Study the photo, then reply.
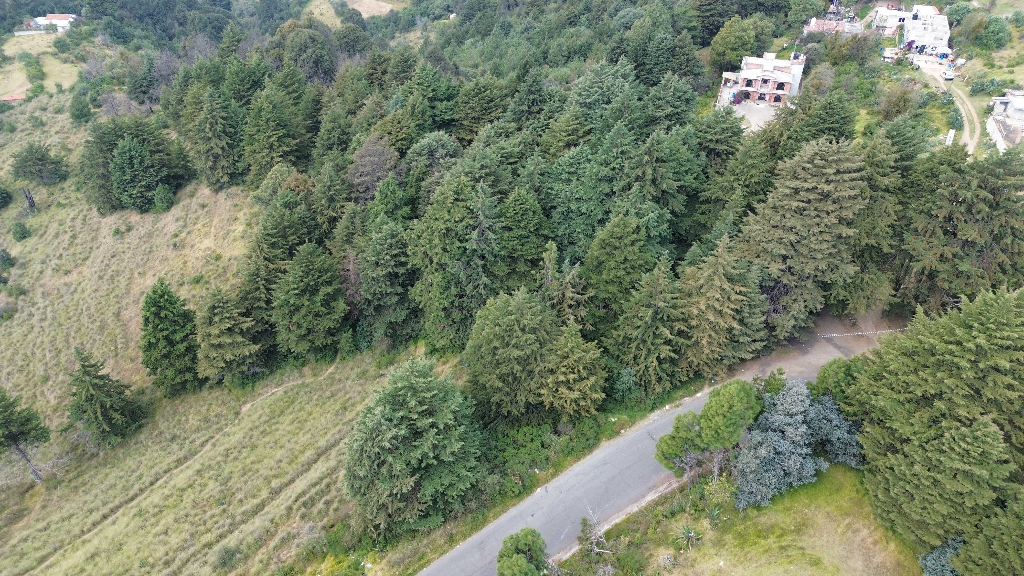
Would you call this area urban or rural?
rural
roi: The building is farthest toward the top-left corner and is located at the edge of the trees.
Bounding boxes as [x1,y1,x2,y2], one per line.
[30,10,78,30]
